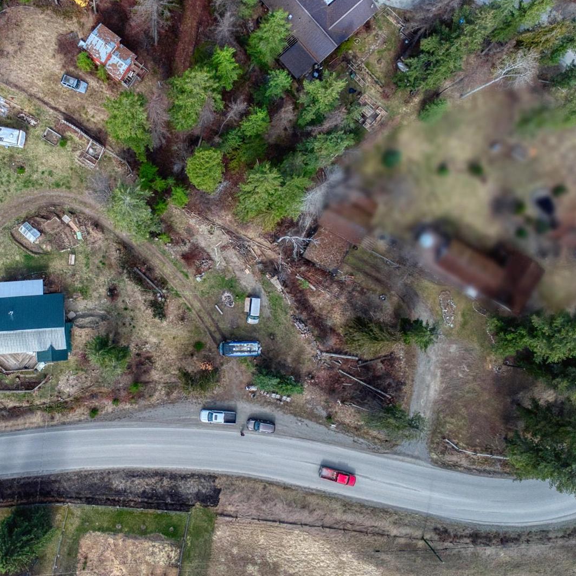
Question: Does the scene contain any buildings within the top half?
Yes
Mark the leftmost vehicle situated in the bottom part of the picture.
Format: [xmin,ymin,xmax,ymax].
[198,408,236,425]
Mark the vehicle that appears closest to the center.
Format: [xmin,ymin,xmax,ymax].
[245,295,260,324]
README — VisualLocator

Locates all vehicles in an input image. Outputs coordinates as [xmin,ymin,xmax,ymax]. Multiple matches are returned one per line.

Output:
[317,465,355,486]
[245,295,260,324]
[198,408,236,425]
[0,127,27,150]
[245,418,275,433]
[60,75,88,94]
[218,339,262,357]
